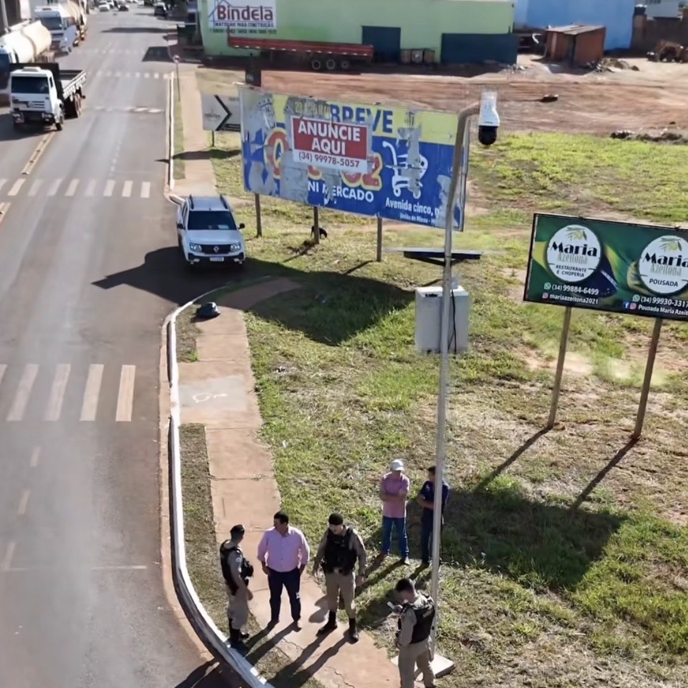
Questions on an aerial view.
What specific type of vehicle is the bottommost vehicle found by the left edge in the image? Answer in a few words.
truck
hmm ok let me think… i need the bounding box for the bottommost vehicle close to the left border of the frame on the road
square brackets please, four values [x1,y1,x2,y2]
[2,64,86,126]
